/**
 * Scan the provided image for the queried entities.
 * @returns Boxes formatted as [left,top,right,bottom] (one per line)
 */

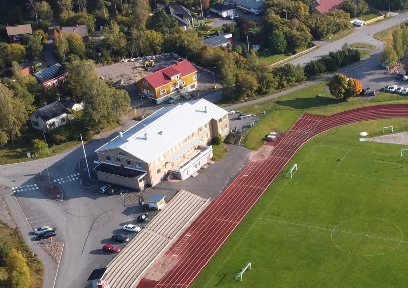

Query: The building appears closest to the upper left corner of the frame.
[7,23,34,44]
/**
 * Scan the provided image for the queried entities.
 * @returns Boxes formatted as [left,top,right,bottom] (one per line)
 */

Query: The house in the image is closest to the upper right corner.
[307,0,344,17]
